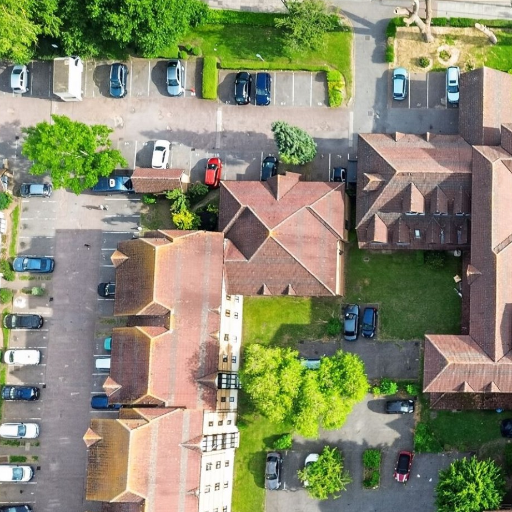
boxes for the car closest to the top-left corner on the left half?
[9,64,32,97]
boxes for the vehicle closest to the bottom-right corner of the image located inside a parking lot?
[395,450,413,480]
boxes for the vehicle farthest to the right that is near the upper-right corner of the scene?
[443,68,460,105]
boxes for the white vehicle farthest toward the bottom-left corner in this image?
[0,464,37,484]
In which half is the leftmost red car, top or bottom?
top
